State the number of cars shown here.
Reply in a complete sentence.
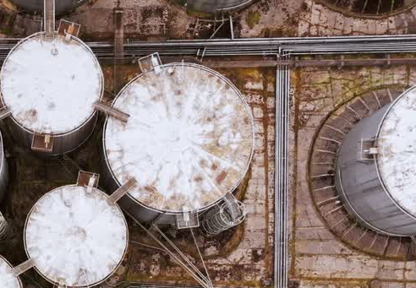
Not a single car can be seen.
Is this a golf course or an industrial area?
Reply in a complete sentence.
What you see here is an industrial area.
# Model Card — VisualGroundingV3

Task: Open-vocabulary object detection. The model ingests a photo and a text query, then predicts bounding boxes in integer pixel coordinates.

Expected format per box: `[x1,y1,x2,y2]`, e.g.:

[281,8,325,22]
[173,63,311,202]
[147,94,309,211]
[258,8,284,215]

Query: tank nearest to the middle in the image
[97,42,259,230]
